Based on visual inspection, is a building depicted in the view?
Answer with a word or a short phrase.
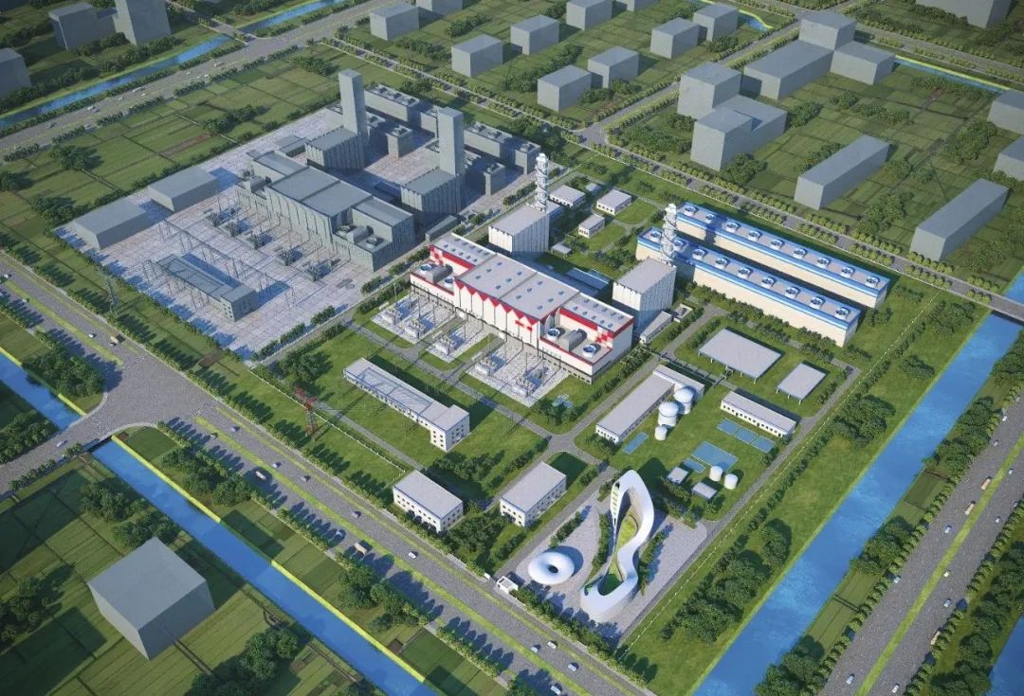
Yes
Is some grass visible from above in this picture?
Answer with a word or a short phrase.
Yes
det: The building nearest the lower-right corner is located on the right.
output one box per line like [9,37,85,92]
[720,391,796,440]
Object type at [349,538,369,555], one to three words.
vehicle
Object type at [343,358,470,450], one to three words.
building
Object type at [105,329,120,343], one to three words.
vehicle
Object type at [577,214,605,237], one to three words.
shed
